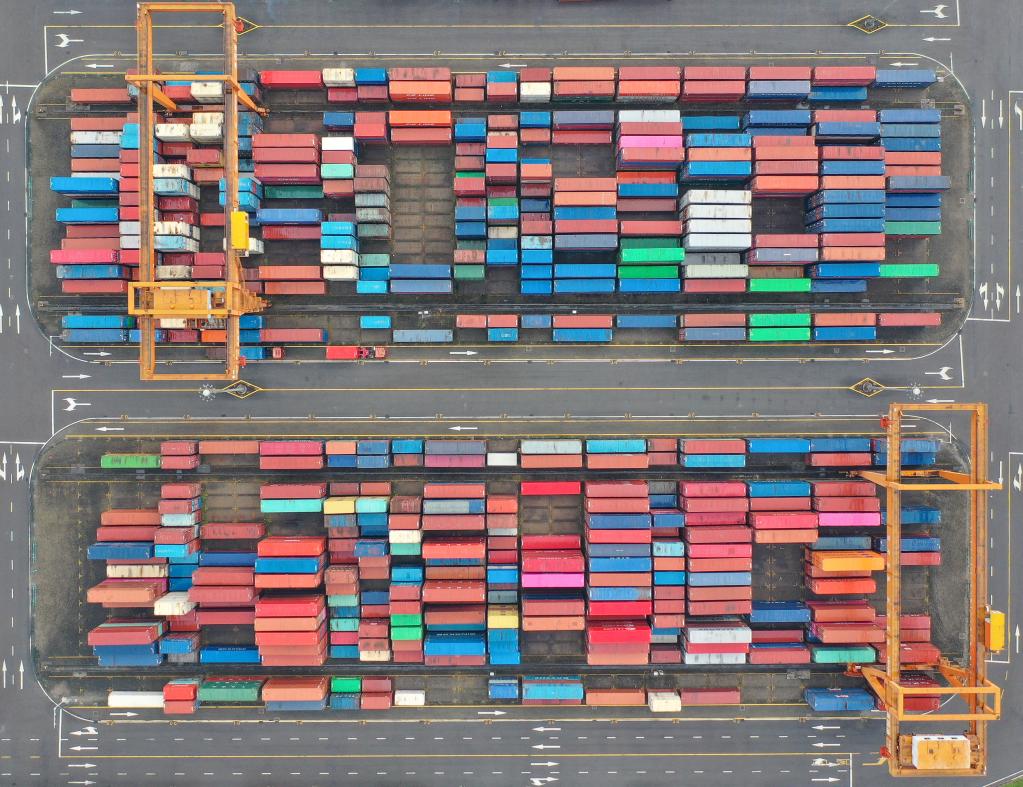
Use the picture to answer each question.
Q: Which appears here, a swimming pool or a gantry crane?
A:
gantry crane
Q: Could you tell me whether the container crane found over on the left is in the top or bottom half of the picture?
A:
top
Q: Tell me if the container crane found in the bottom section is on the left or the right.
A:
right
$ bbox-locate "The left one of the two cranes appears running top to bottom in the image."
[122,1,279,381]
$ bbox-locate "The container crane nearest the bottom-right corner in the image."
[833,402,1004,777]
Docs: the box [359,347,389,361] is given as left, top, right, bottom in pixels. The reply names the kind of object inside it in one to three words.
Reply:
vehicle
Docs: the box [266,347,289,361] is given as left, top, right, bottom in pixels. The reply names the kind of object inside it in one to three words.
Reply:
vehicle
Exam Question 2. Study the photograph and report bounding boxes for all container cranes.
[122,1,279,381]
[833,402,1004,777]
